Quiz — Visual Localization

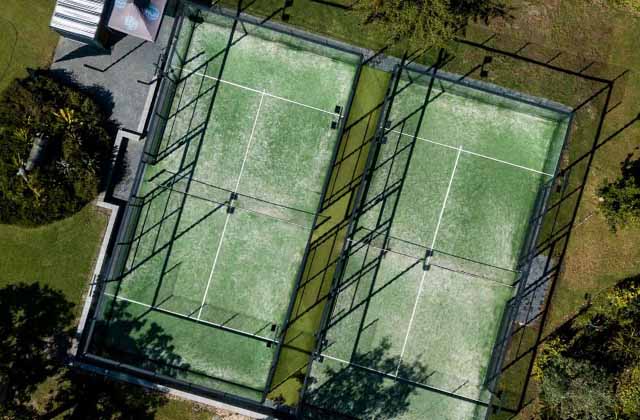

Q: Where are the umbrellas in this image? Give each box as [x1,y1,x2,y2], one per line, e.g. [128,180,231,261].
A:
[108,0,168,41]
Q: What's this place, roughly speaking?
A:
sports ground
